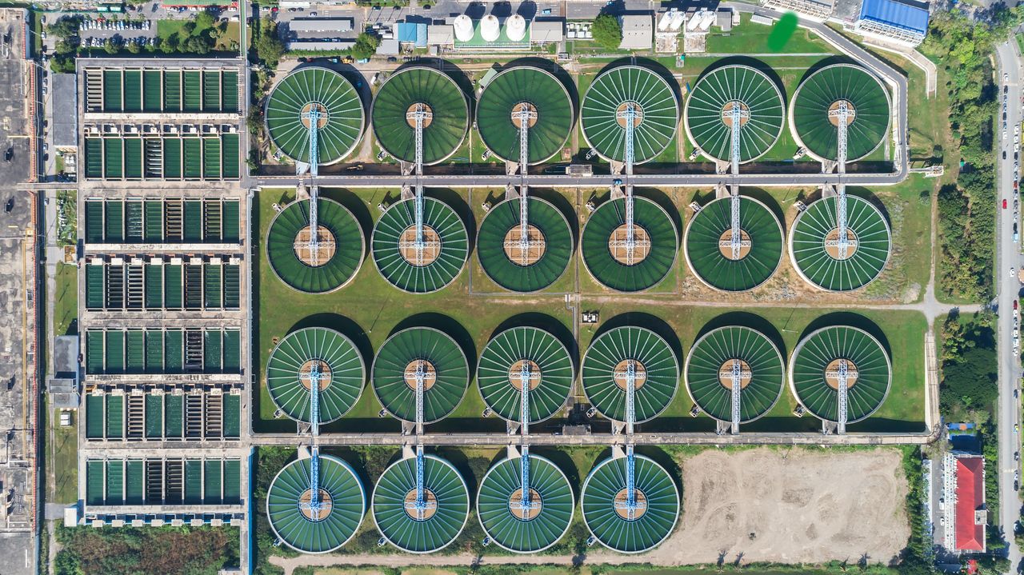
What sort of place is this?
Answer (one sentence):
What you see here is an industrial area.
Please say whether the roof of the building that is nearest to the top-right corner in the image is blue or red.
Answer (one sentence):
From above, the roof of the building that is nearest to the top-right corner appears blue.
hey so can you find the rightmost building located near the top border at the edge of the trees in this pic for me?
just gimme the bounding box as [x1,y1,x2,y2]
[853,0,934,49]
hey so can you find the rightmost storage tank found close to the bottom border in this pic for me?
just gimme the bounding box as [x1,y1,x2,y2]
[580,445,680,553]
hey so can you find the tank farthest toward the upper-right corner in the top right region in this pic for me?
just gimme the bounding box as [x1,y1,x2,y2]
[788,64,891,174]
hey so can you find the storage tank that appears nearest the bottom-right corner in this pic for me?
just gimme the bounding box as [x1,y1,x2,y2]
[788,325,891,433]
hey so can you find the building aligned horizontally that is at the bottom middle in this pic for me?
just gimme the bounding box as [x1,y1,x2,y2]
[562,423,591,435]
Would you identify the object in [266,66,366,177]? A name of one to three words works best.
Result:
storage tank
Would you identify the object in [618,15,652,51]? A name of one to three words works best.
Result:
building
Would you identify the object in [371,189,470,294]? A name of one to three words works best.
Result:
storage tank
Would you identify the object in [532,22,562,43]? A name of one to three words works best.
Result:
shed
